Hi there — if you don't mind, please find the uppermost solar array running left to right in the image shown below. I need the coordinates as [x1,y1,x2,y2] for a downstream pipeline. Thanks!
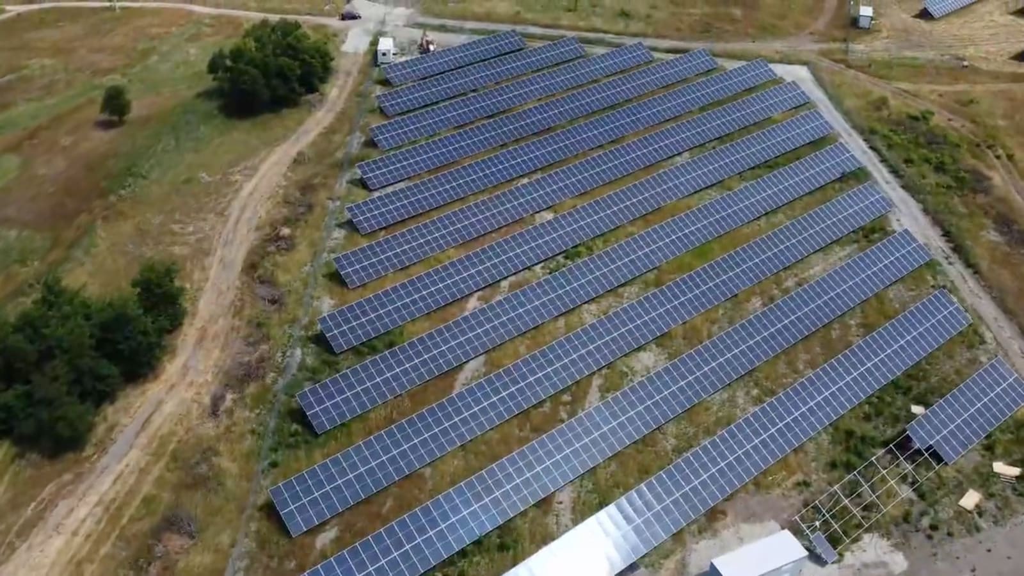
[921,0,981,21]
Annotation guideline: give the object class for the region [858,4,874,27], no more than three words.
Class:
shed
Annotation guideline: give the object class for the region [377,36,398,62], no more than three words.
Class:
building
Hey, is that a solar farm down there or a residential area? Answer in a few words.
solar farm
